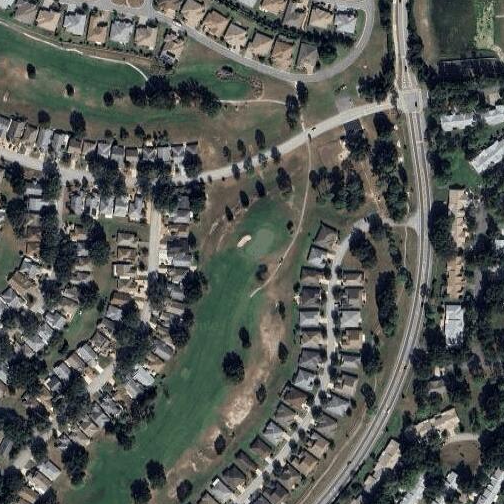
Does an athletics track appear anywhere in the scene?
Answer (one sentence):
No, the scene contains no athletics track.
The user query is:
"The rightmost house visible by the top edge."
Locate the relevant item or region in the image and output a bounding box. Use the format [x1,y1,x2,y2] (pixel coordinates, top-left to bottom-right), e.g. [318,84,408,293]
[334,8,357,32]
